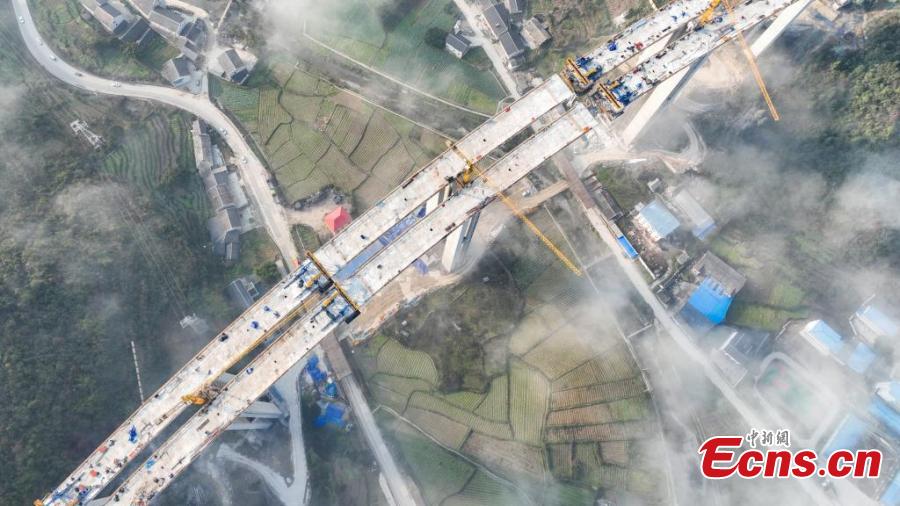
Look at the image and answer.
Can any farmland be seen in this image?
Yes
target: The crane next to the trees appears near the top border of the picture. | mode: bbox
[691,0,780,121]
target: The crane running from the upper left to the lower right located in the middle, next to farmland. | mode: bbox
[446,141,583,274]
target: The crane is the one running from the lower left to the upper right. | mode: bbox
[182,289,323,412]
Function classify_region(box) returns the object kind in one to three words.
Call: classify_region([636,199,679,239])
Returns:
shed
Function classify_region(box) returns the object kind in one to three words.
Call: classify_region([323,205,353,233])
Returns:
shed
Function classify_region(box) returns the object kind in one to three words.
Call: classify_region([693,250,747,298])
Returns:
building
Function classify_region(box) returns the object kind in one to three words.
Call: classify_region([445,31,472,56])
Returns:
house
